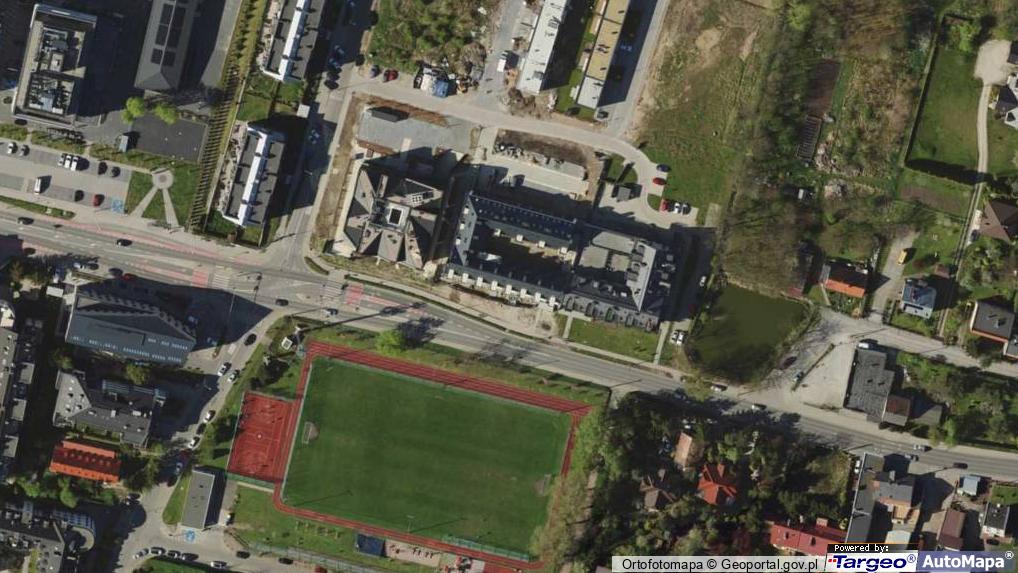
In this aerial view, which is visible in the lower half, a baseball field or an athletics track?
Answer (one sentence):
The feature located in the lower half is an athletics track.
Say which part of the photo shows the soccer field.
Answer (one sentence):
Look in the bottom portion of the view to spot the soccer field.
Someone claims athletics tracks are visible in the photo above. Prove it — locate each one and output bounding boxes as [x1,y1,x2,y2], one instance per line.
[273,342,594,570]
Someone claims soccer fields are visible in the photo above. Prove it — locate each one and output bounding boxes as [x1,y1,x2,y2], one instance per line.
[281,357,571,561]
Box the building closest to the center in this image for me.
[445,193,577,310]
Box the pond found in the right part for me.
[688,283,811,380]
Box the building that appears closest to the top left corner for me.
[12,4,101,130]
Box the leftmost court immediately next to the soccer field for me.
[228,392,295,479]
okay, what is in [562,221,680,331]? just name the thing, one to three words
building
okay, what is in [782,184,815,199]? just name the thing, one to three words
shed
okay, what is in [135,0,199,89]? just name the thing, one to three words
building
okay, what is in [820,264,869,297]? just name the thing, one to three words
house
